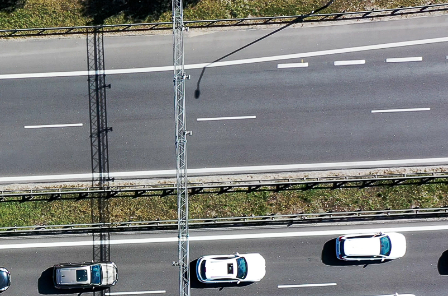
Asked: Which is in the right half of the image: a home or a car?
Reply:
car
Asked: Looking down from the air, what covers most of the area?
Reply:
paved ground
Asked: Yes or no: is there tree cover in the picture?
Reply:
No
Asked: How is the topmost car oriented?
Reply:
from left to right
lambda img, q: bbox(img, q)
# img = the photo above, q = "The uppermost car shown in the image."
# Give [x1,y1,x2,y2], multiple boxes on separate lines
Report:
[335,229,406,262]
